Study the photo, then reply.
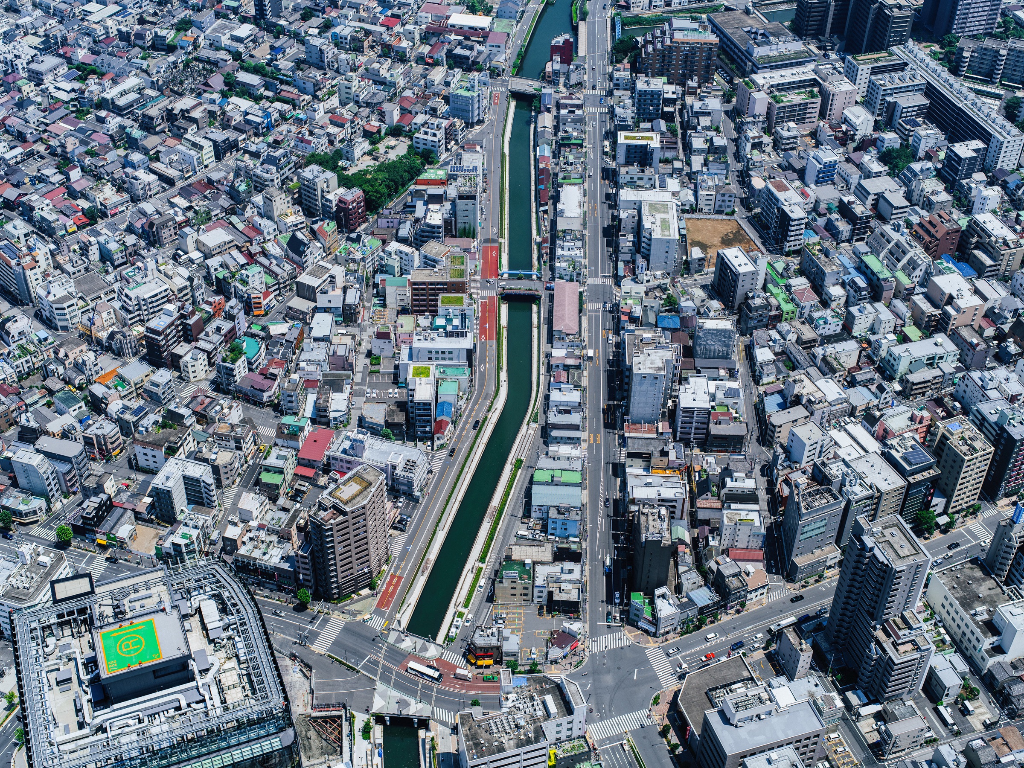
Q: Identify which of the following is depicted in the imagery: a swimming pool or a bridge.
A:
bridge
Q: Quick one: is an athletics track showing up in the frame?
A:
No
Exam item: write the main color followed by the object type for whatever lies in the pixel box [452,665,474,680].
white vehicle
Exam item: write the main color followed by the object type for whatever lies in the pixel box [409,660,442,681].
white bus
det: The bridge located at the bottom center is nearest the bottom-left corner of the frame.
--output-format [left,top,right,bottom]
[372,624,461,726]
